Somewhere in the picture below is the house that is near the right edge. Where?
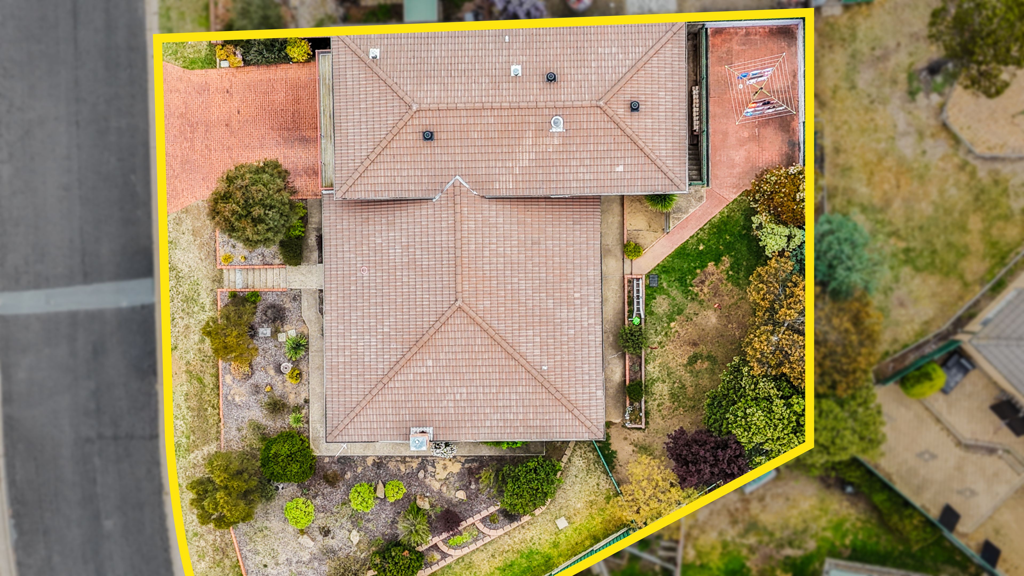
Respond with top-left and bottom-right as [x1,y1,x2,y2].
[949,257,1024,415]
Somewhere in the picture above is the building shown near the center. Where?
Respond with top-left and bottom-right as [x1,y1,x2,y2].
[315,17,691,455]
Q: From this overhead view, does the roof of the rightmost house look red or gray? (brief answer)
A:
gray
